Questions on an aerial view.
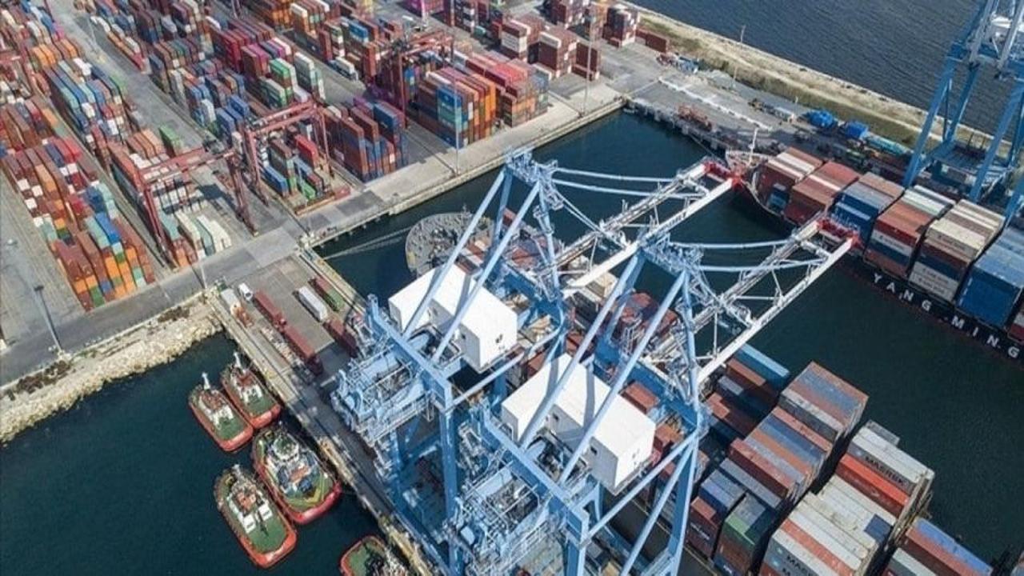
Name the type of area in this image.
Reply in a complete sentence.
The picture captures a port.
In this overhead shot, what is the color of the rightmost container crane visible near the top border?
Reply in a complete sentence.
The rightmost container crane visible near the top border looks blue in the image.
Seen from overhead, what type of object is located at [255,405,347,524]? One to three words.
boat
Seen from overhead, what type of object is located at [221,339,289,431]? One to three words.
boat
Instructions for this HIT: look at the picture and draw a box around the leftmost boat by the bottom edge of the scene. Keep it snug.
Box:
[217,453,300,569]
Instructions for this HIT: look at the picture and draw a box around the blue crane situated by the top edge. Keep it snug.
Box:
[904,0,1024,226]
